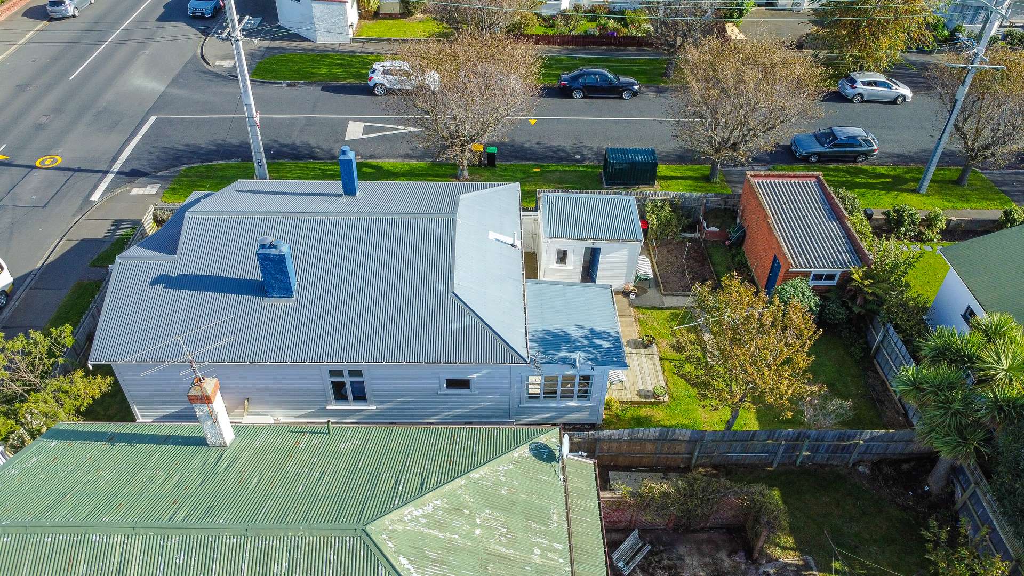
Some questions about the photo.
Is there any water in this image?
No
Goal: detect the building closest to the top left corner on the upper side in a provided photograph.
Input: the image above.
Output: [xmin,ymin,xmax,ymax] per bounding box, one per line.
[271,0,368,41]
